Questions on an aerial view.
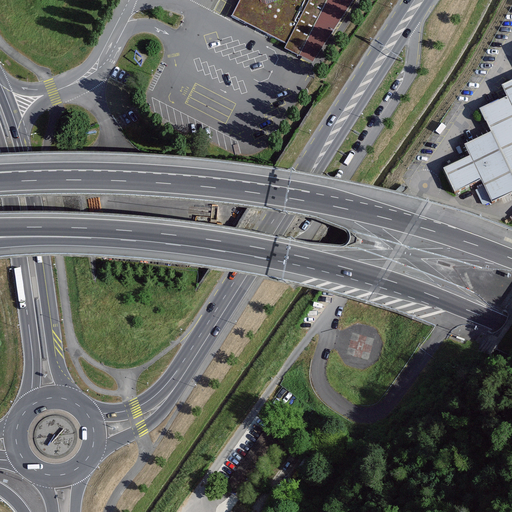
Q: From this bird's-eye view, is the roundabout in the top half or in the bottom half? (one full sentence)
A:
Seen from above, the roundabout lies in the bottom half of the view.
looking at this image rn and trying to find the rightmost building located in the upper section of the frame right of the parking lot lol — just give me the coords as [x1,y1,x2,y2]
[442,79,512,203]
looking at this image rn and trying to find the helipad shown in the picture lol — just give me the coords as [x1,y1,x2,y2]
[333,323,383,369]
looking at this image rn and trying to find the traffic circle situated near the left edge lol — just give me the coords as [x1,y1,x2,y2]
[0,384,134,512]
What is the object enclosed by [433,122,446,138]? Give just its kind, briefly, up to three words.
vehicle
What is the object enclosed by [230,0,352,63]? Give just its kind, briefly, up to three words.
building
